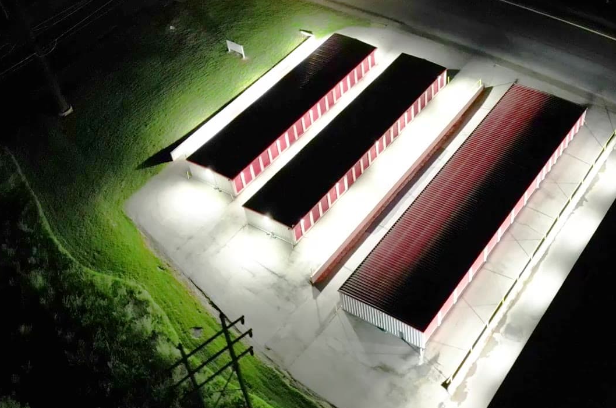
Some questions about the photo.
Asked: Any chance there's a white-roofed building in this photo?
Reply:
No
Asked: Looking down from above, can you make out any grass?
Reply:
Yes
